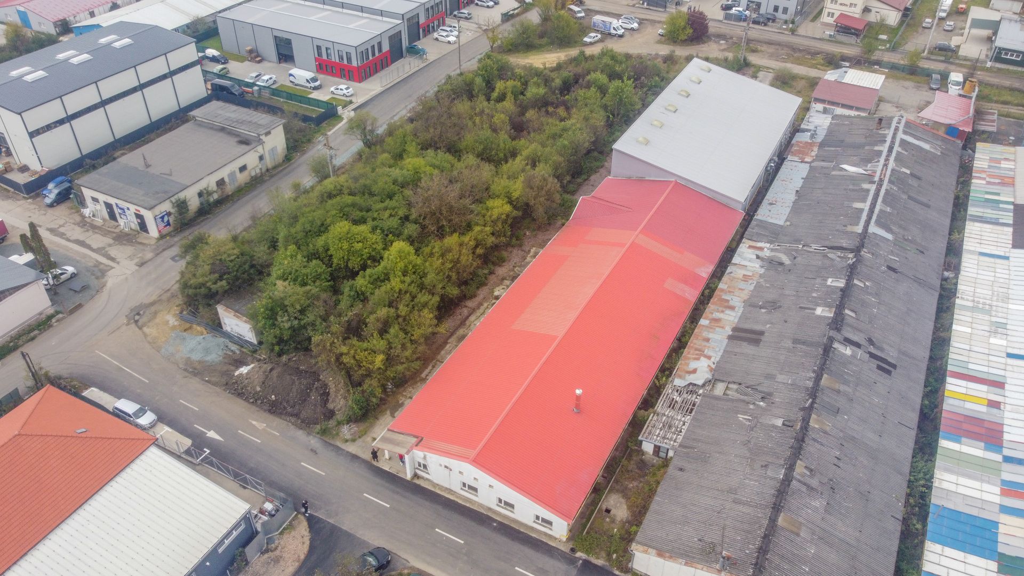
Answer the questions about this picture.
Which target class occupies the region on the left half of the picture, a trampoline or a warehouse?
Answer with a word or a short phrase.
warehouse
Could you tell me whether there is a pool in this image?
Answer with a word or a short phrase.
No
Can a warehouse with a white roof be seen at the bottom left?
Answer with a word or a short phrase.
Yes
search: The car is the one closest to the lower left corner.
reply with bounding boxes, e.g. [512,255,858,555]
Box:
[107,398,154,430]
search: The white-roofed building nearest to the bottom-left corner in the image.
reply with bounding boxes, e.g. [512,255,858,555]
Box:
[0,447,255,576]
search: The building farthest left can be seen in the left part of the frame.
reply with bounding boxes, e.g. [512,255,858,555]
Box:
[0,252,54,338]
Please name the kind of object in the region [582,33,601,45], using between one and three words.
vehicle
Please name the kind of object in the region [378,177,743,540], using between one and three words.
warehouse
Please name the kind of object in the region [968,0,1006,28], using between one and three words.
shed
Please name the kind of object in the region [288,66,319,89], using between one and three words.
vehicle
